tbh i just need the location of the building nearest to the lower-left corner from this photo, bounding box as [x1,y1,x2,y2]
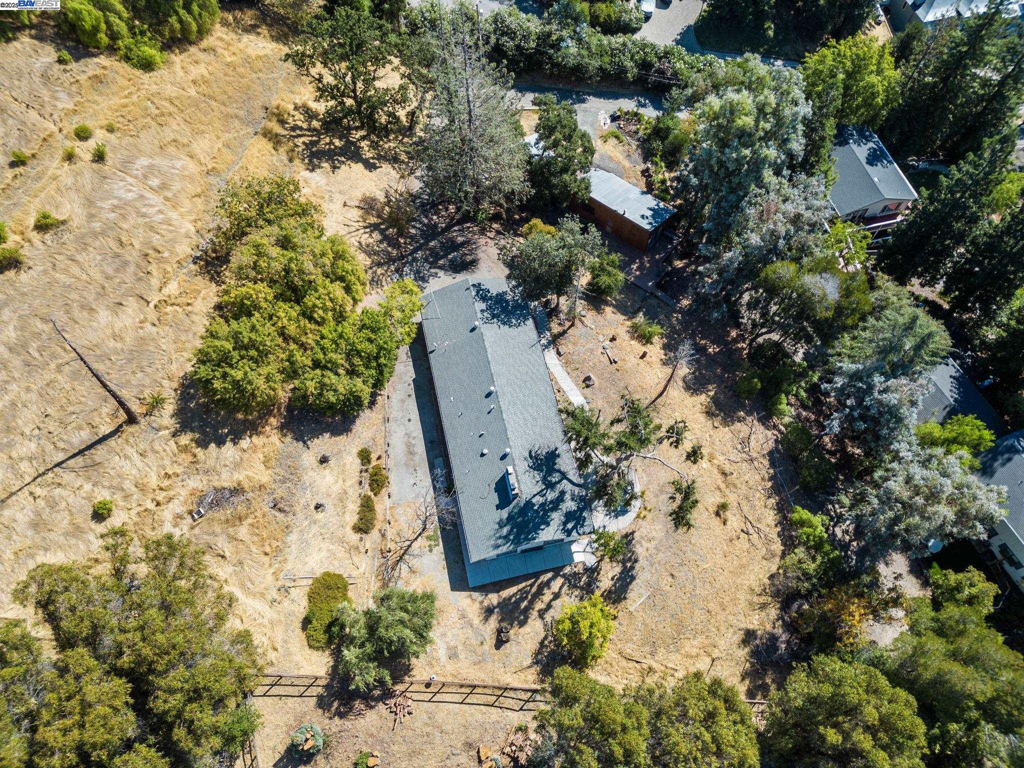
[417,277,596,566]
